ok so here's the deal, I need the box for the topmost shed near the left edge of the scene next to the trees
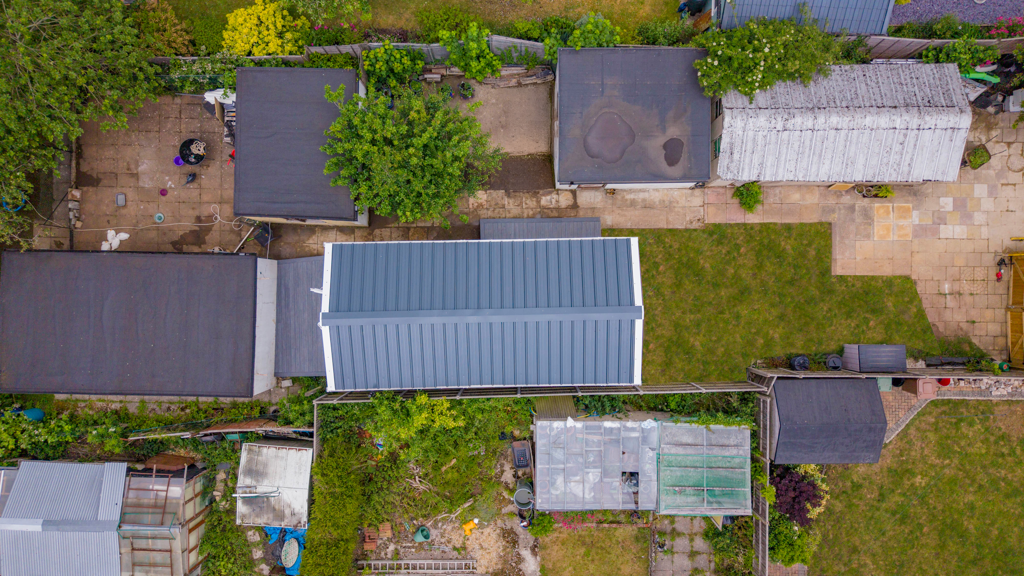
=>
[0,251,278,398]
